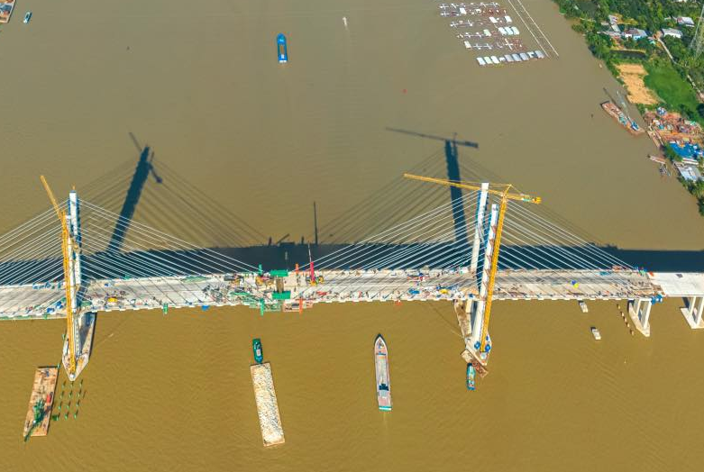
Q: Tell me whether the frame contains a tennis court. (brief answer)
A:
No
